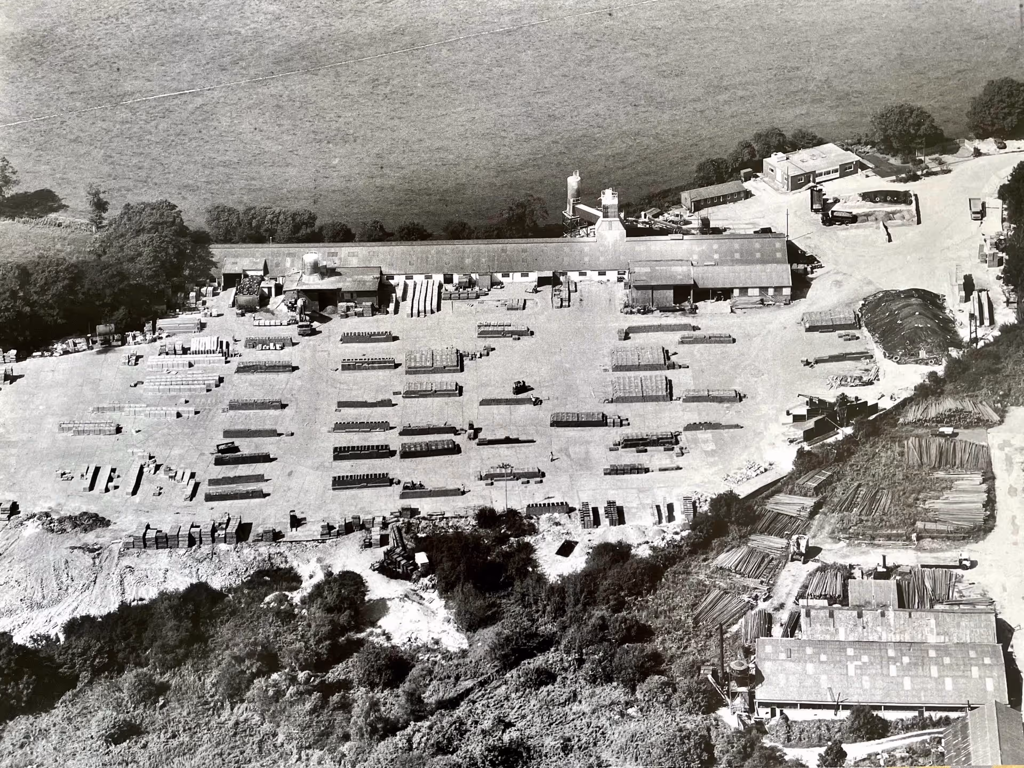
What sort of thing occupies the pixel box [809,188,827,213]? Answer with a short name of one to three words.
vehicle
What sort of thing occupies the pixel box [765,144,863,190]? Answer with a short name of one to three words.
building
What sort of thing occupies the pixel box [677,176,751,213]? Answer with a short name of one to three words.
shed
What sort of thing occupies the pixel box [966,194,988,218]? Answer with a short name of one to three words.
truck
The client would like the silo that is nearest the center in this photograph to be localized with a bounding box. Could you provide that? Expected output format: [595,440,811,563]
[564,167,586,237]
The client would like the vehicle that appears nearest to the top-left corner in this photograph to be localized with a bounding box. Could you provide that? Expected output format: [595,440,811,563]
[295,295,313,333]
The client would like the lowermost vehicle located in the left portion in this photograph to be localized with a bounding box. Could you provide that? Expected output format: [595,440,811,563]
[286,508,301,536]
